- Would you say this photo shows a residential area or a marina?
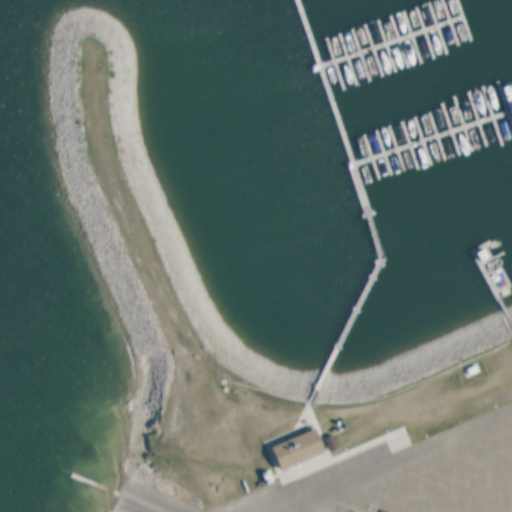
marina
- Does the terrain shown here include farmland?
No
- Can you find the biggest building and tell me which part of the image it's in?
bottom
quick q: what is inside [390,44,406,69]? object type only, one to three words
boat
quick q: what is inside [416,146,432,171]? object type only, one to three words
boat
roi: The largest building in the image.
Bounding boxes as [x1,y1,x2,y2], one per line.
[272,431,325,471]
